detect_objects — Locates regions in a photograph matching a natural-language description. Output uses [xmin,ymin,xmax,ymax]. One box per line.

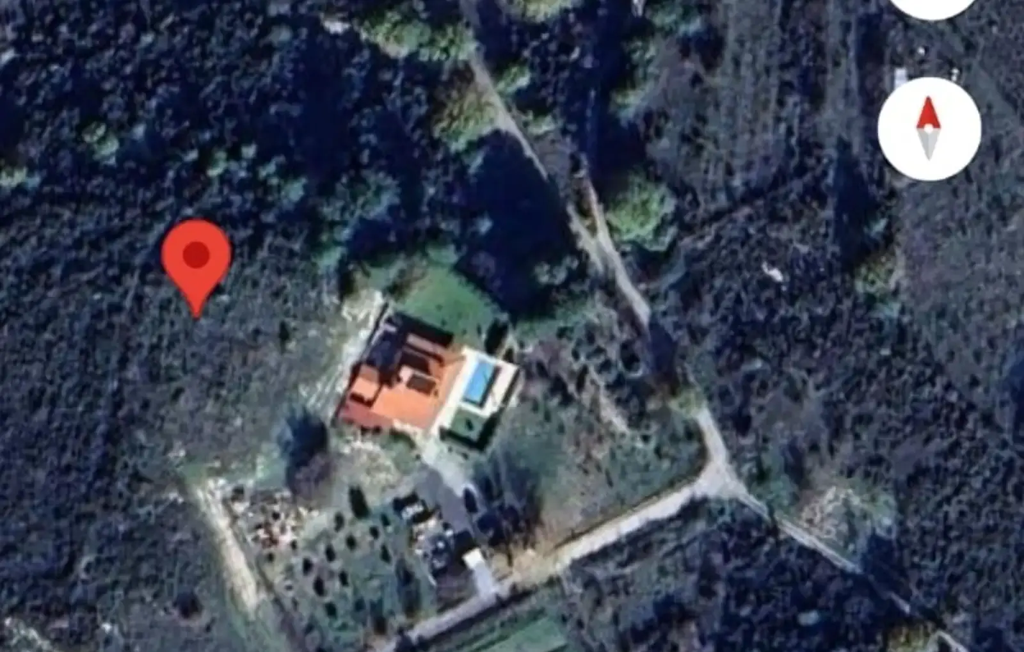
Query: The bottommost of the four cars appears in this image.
[436,537,452,561]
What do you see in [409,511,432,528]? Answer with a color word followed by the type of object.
black car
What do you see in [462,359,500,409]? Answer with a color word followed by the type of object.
blue swimming pool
